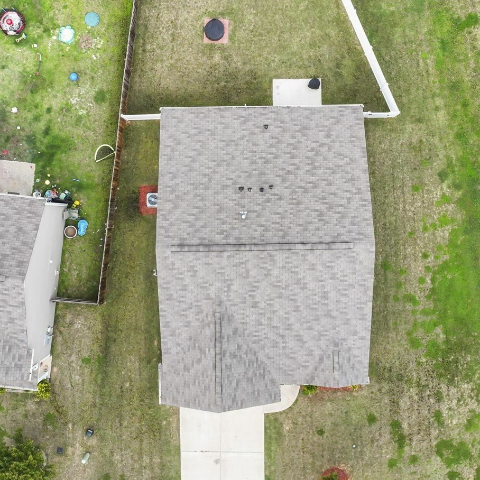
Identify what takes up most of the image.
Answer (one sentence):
The largest share of the image is taken up by grass.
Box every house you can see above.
[155,104,375,411]
[0,191,66,389]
